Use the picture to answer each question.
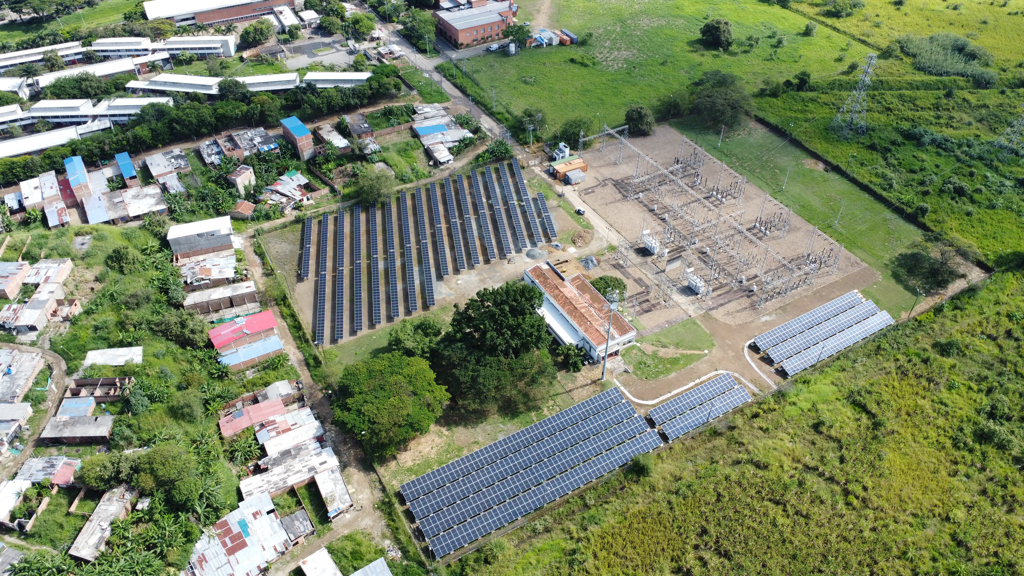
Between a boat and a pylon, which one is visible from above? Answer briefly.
pylon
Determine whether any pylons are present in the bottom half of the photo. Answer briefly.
No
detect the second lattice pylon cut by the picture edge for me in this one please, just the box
[978,81,1024,156]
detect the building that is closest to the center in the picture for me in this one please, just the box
[524,260,637,367]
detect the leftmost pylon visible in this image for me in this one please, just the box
[829,53,883,138]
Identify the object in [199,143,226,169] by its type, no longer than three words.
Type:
house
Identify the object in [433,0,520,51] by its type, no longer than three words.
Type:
building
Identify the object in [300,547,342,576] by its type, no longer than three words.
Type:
house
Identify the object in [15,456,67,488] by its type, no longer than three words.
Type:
shed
